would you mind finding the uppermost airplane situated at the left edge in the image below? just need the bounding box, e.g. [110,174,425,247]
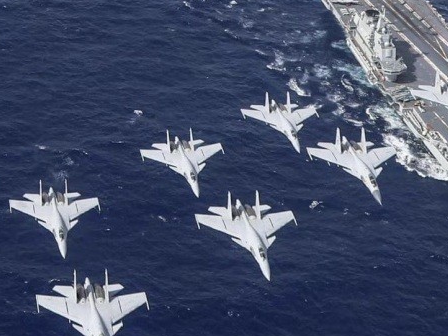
[9,177,101,258]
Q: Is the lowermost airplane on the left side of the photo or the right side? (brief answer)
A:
left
